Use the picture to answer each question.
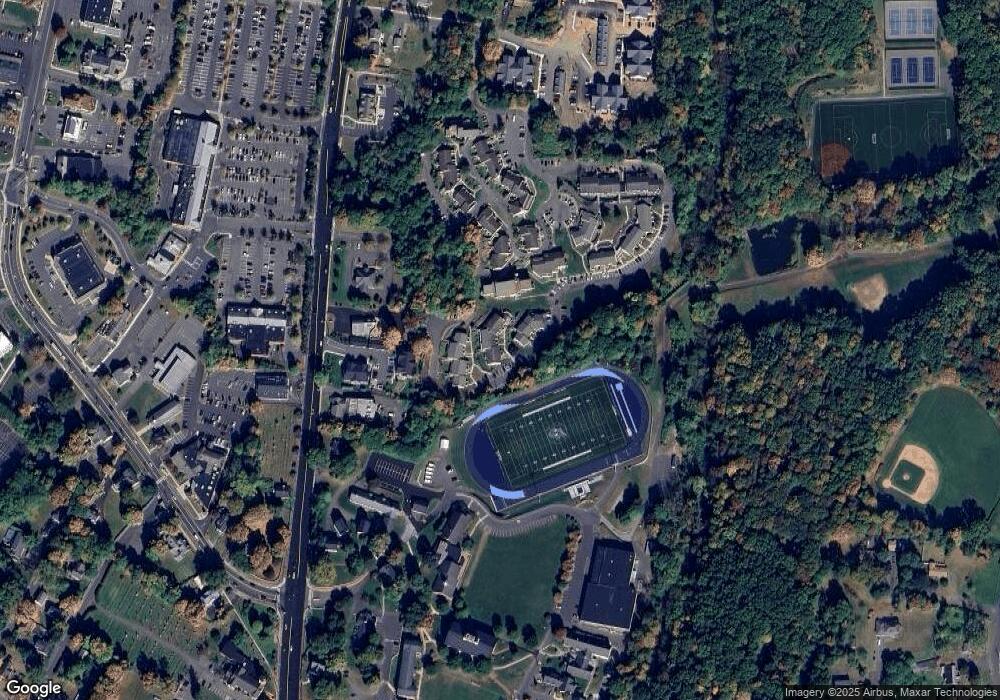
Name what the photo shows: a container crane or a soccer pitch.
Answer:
soccer pitch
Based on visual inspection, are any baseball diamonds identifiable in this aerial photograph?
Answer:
Yes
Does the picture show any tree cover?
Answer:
Yes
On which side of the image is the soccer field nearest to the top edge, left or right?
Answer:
right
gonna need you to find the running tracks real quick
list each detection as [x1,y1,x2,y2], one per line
[465,363,660,511]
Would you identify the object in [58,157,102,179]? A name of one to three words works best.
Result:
building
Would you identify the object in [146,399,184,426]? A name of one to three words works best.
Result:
shed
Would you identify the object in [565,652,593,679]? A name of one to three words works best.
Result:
house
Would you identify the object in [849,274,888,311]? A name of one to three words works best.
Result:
baseball field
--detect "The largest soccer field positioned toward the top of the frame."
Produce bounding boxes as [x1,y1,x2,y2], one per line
[813,97,957,184]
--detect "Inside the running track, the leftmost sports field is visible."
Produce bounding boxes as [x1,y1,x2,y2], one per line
[486,377,627,486]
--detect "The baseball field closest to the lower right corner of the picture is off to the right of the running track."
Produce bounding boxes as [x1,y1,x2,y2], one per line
[880,387,1000,516]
